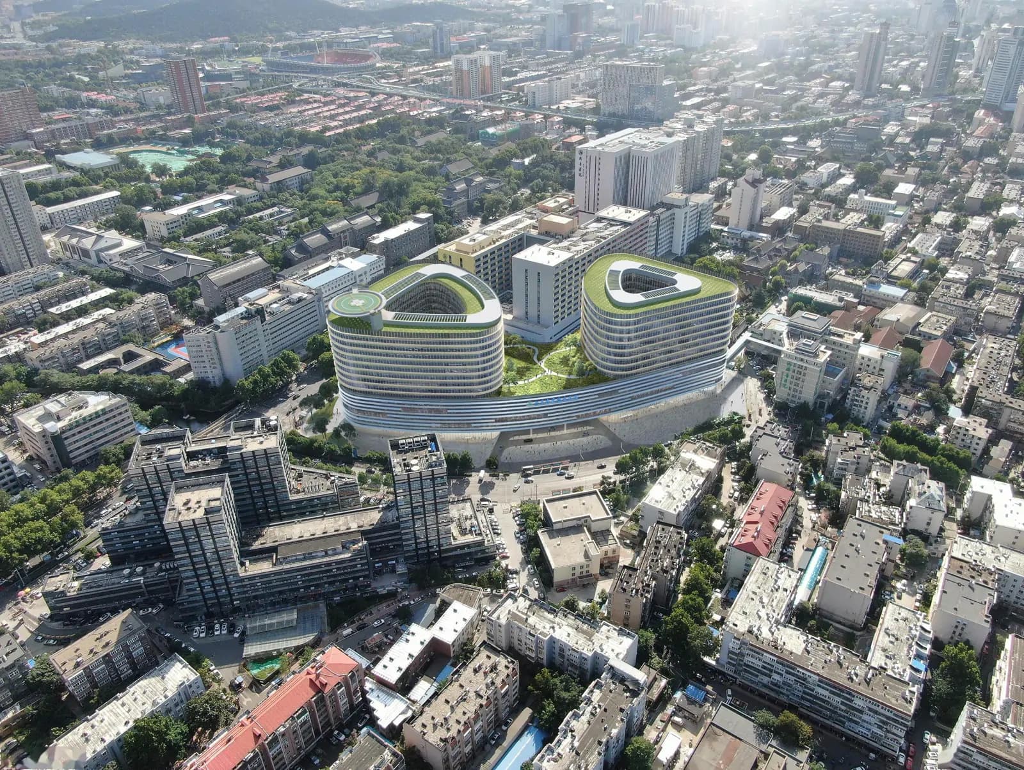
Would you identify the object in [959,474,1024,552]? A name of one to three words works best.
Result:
building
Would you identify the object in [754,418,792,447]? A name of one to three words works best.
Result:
building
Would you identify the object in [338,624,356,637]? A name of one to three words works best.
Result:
vehicle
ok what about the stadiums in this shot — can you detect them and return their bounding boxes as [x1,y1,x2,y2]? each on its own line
[256,31,382,78]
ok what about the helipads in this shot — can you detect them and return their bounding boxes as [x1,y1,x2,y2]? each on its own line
[325,285,389,316]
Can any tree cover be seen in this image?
Yes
